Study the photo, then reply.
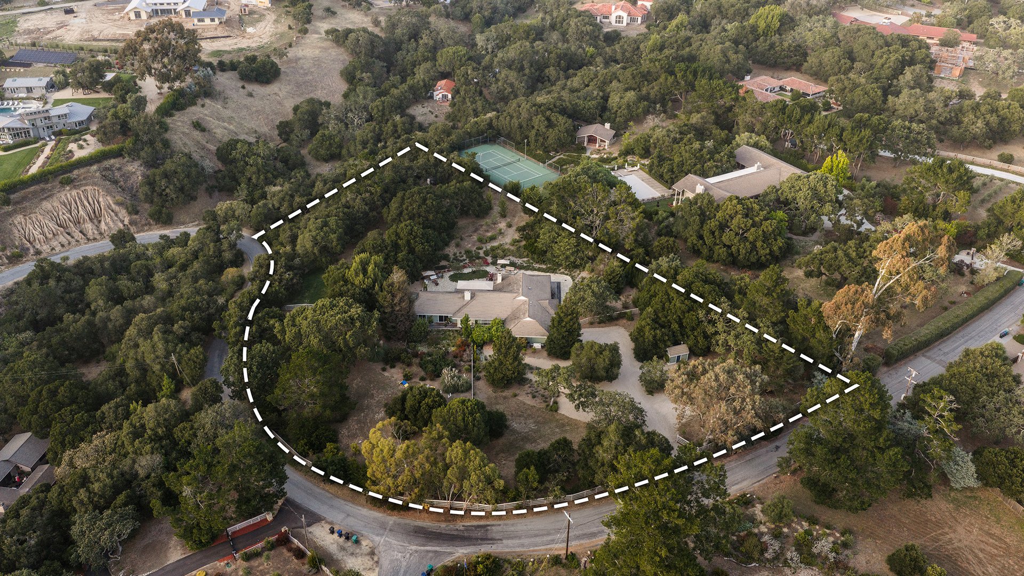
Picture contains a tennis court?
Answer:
Yes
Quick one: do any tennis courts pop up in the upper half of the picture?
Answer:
Yes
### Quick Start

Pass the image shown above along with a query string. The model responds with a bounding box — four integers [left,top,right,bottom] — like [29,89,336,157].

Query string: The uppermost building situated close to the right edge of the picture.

[815,9,997,42]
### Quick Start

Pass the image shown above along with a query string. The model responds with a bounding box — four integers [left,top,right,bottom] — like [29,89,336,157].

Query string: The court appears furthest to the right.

[443,140,556,196]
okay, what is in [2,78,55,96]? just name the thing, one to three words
building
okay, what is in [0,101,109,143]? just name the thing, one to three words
house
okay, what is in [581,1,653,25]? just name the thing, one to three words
house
